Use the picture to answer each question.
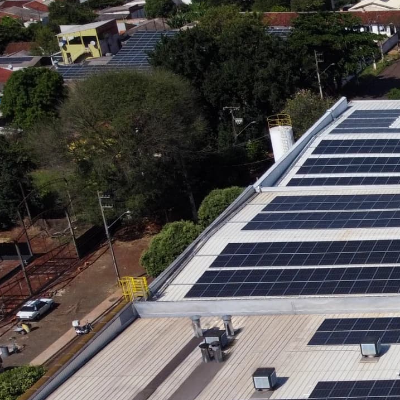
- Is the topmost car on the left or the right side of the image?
left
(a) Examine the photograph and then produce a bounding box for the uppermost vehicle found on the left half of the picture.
[14,294,56,319]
